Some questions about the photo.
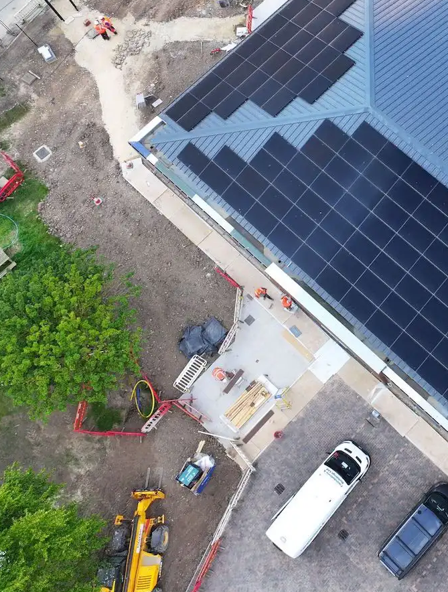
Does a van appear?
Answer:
Yes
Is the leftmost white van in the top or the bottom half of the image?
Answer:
bottom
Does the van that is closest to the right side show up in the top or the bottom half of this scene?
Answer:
bottom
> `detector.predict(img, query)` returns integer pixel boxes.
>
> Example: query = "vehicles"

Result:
[88,468,167,592]
[267,439,375,560]
[378,480,448,579]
